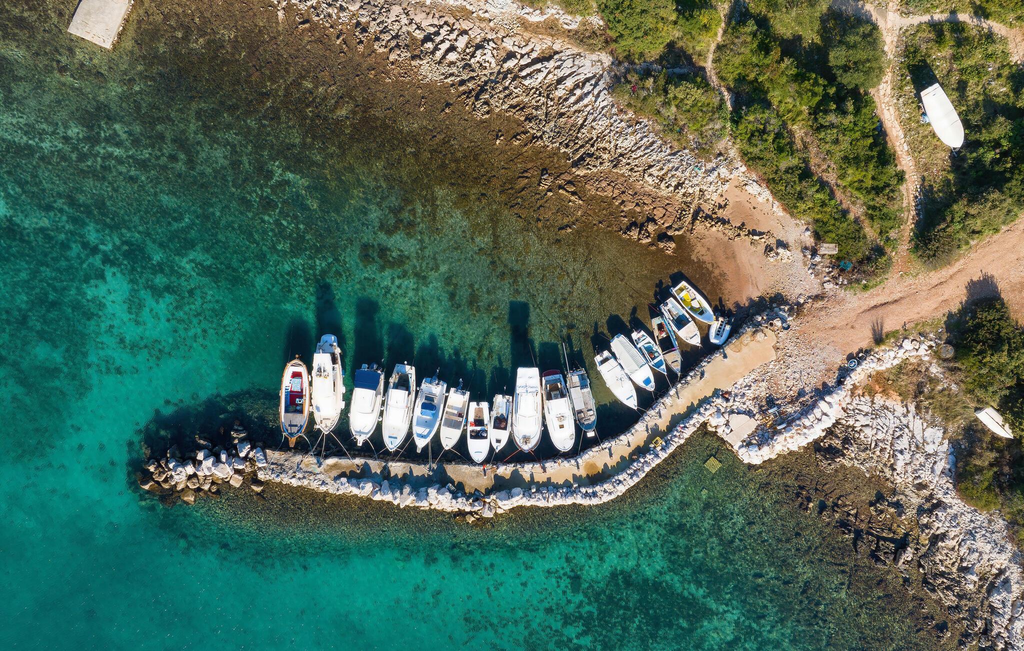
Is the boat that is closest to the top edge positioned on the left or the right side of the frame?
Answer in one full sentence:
You can find the boat that is closest to the top edge on the right side of the picture.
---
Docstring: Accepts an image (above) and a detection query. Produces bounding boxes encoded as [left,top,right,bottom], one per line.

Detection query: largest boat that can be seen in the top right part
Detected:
[914,83,968,156]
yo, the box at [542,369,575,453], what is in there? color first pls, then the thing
white boat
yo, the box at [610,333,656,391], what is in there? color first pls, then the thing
white boat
